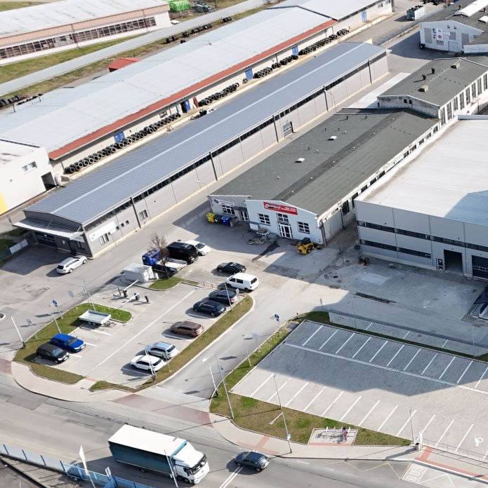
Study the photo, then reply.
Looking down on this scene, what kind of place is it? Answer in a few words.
industrial area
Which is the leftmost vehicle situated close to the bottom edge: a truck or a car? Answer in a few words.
truck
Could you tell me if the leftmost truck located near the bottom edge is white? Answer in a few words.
Yes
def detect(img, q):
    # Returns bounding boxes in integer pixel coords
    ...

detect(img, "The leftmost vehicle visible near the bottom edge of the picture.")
[109,424,214,486]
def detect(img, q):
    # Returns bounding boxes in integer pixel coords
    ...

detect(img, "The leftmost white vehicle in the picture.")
[53,257,90,274]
